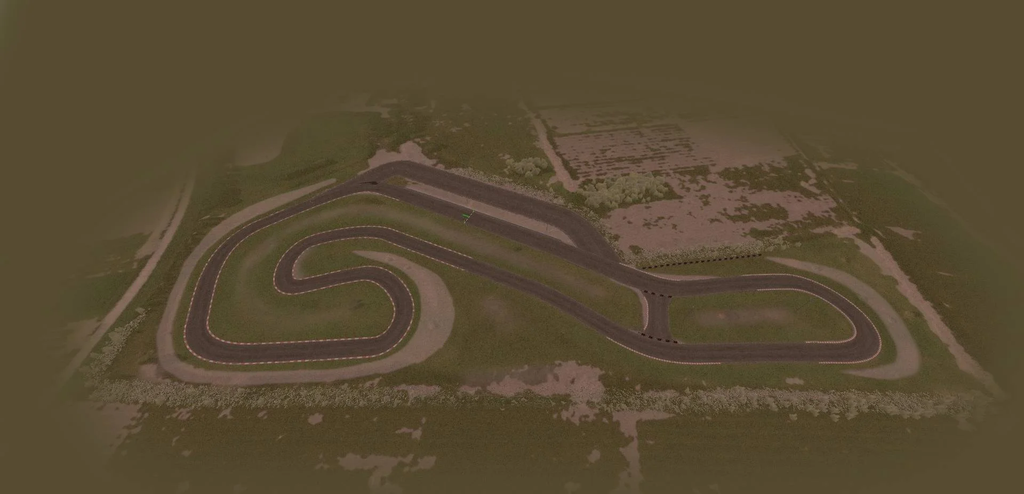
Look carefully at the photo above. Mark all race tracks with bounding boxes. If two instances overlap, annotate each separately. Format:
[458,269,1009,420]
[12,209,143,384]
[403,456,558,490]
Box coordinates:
[186,182,880,364]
